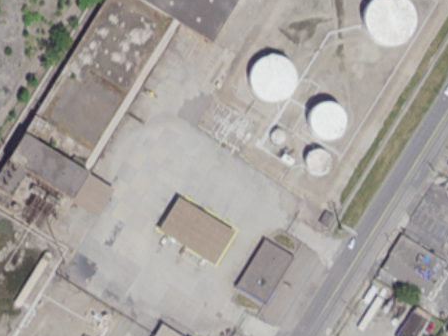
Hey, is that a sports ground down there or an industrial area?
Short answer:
industrial area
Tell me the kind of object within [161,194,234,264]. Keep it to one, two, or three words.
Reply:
building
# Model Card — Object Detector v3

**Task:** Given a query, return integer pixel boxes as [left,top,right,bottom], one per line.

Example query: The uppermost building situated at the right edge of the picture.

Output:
[378,234,448,300]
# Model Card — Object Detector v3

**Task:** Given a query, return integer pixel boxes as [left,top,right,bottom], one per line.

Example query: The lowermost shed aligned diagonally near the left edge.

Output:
[14,253,51,306]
